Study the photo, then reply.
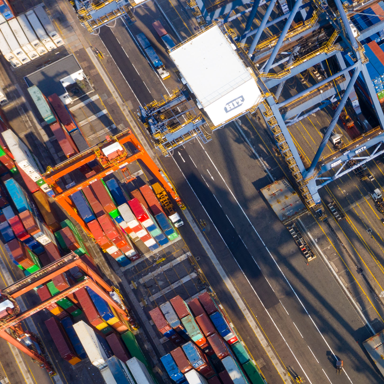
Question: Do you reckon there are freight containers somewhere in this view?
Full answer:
Yes, a freight container is visible in the scene.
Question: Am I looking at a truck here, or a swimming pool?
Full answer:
It is a truck that can be seen here.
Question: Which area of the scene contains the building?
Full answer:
The building appears toward the top left of the photo.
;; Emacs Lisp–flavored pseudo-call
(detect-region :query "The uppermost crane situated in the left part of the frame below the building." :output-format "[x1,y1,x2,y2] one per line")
[36,124,183,248]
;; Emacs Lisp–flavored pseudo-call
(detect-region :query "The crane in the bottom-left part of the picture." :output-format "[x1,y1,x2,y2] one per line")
[0,252,135,376]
